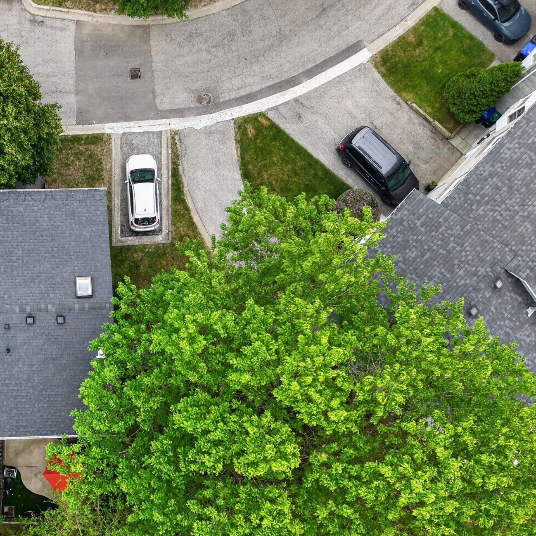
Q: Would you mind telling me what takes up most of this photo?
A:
trees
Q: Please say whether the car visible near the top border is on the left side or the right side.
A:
right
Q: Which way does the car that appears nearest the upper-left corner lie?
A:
vertically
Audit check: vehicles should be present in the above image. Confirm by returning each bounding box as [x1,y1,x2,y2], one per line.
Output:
[458,0,536,46]
[123,154,162,233]
[333,116,414,210]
